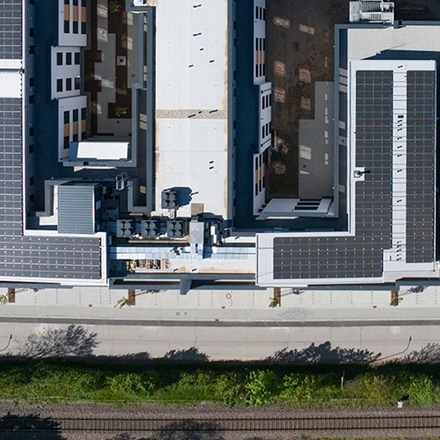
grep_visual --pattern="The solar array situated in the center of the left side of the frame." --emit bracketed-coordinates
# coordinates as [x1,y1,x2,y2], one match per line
[0,98,105,278]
